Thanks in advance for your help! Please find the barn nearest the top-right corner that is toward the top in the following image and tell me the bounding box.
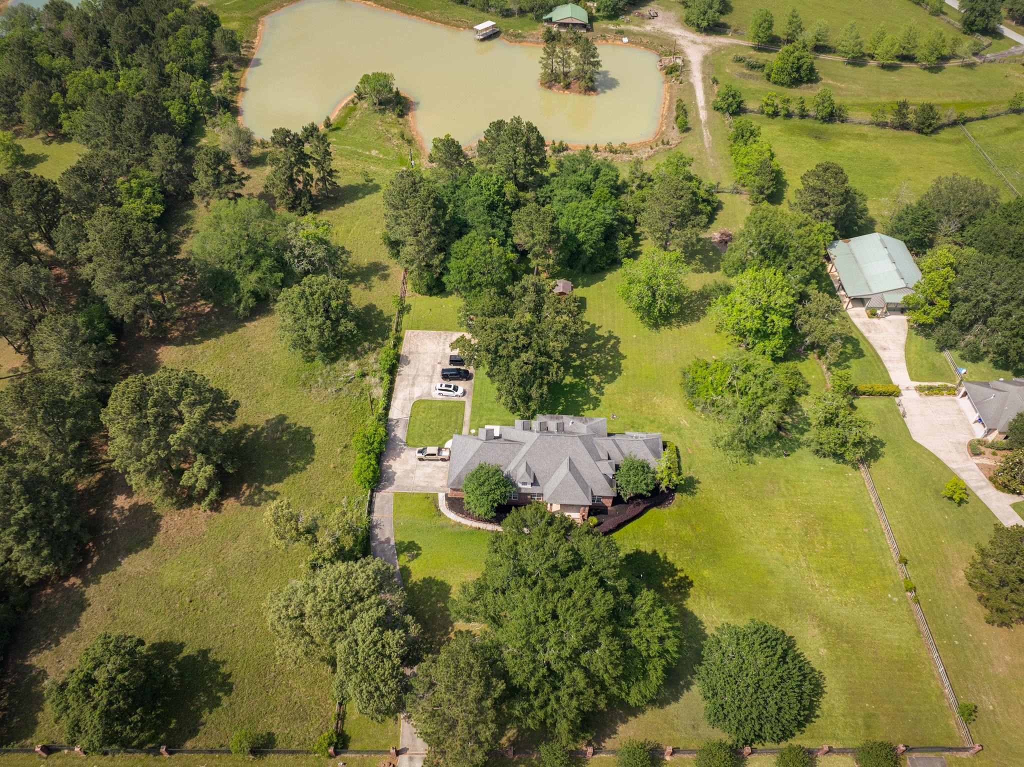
[823,232,929,319]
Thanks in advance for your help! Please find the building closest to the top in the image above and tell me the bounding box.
[541,8,592,35]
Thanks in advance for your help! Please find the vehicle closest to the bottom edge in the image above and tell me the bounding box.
[415,446,451,462]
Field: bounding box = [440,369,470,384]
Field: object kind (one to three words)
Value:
car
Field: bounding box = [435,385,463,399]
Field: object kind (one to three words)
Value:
car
